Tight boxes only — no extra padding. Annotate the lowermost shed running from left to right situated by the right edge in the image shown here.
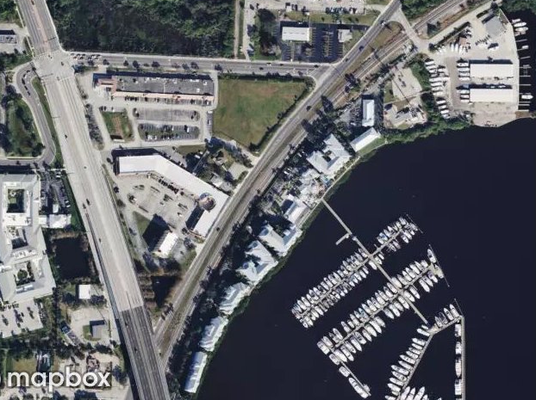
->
[469,88,513,102]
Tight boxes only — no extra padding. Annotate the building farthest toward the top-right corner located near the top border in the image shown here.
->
[479,15,508,39]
